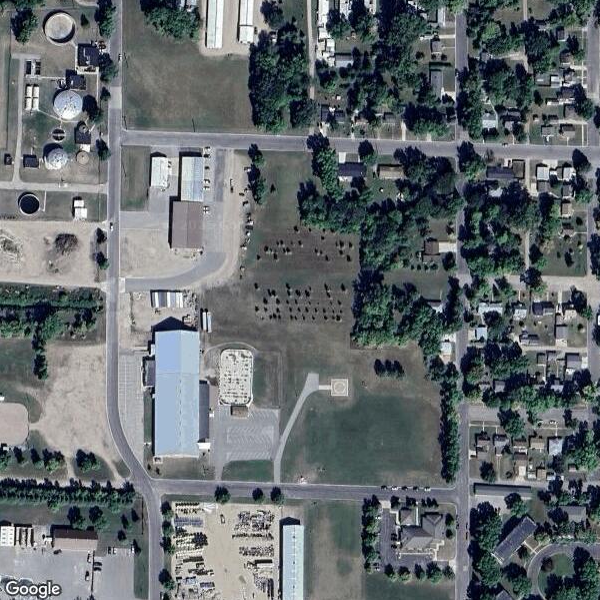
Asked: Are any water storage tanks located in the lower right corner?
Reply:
No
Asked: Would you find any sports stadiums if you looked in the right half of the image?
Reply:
No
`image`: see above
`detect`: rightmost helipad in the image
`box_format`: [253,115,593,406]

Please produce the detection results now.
[331,379,349,397]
